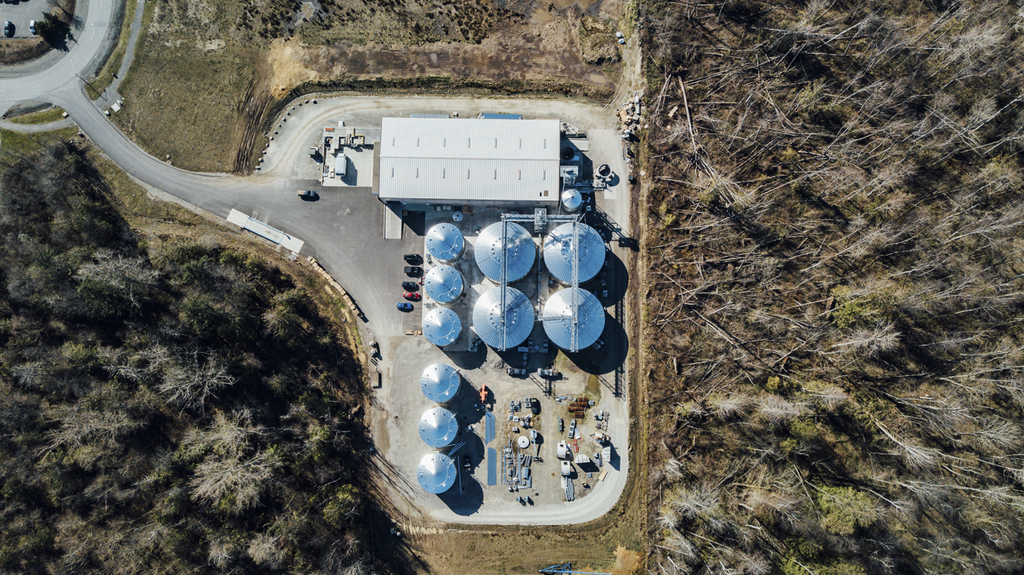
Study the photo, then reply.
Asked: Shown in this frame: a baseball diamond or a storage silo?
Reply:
storage silo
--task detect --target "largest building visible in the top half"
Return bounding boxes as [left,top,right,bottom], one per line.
[373,117,560,207]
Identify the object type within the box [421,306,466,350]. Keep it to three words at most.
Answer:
silo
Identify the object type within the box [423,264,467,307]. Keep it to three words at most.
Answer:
silo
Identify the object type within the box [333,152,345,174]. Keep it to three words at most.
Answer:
vehicle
